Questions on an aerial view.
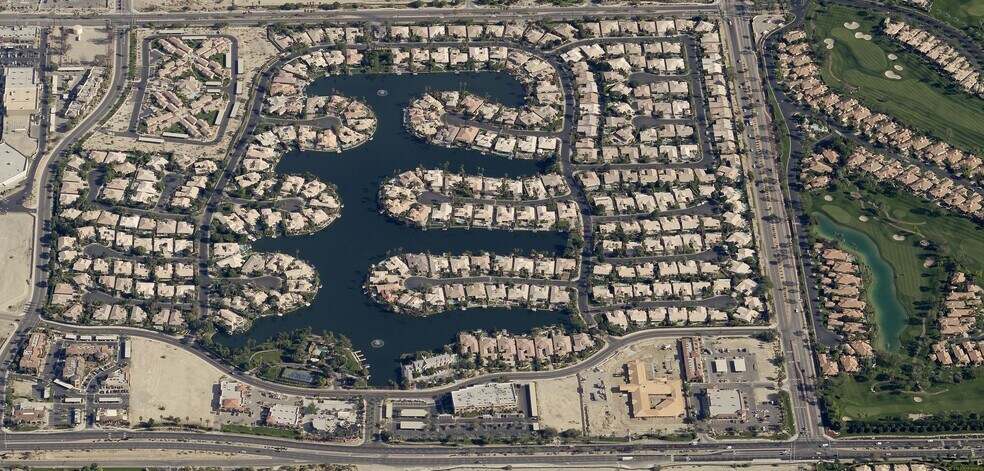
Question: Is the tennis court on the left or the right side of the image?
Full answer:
You can find the tennis court on the left side of the picture.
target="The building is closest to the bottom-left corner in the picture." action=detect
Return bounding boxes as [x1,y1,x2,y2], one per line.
[12,409,45,430]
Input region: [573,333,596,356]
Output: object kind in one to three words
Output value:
house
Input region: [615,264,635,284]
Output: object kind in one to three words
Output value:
house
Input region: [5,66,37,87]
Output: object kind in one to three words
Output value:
building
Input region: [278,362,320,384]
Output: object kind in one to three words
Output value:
tennis court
